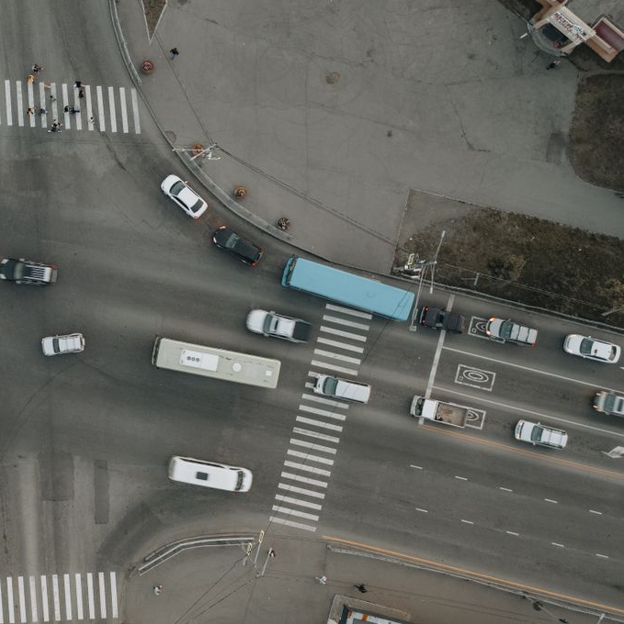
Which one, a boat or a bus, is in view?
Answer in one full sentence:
Of the two, only a bus appears.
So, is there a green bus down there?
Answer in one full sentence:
No, the picture doesn't show any green bus.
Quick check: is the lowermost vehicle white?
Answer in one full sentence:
Yes, the lowermost vehicle is indeed white.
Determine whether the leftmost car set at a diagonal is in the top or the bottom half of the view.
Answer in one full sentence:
You can find the leftmost car set at a diagonal in the top half.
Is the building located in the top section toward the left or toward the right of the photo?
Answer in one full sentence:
You can find the building located in the top section on the right side of the picture.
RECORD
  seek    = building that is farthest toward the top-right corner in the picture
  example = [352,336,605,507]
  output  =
[522,0,624,63]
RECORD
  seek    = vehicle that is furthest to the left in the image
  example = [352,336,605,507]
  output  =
[0,259,58,285]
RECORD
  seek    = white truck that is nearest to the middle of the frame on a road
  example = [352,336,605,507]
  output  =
[244,313,313,343]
